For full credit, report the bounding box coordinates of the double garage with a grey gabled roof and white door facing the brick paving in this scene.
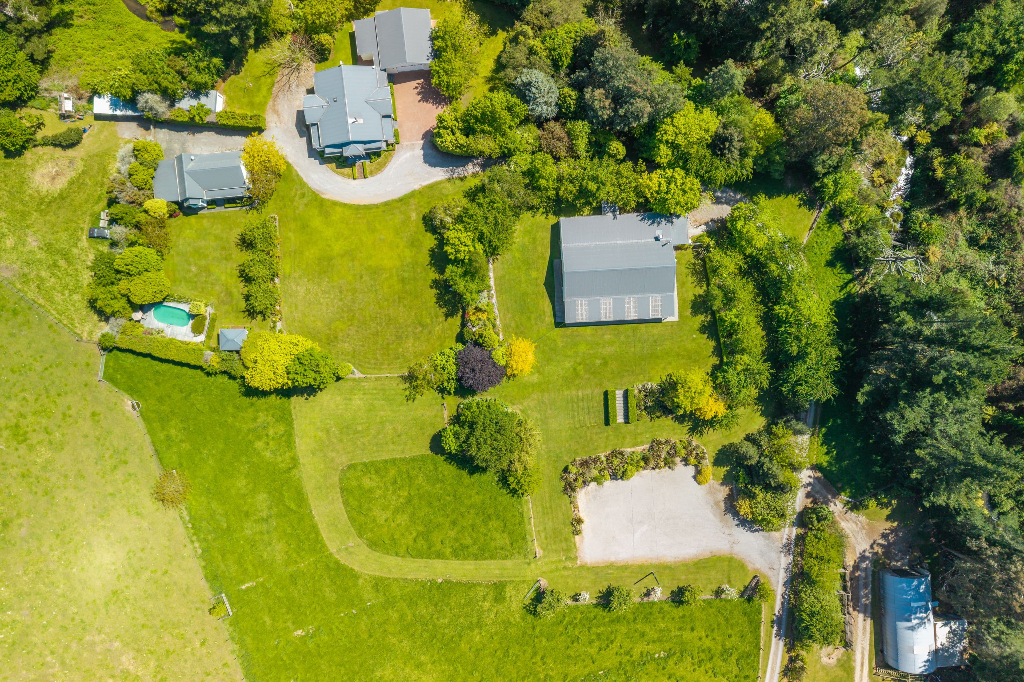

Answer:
[354,7,436,87]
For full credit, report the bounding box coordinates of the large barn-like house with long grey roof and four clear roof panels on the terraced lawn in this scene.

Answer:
[554,202,689,323]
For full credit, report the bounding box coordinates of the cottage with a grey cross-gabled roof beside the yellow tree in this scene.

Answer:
[153,150,250,211]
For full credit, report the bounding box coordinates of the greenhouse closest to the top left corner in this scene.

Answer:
[59,92,77,117]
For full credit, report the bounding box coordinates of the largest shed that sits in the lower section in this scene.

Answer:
[879,569,969,672]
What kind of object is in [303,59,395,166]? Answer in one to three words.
house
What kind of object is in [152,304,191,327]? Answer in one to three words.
swimming pool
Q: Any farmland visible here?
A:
Yes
